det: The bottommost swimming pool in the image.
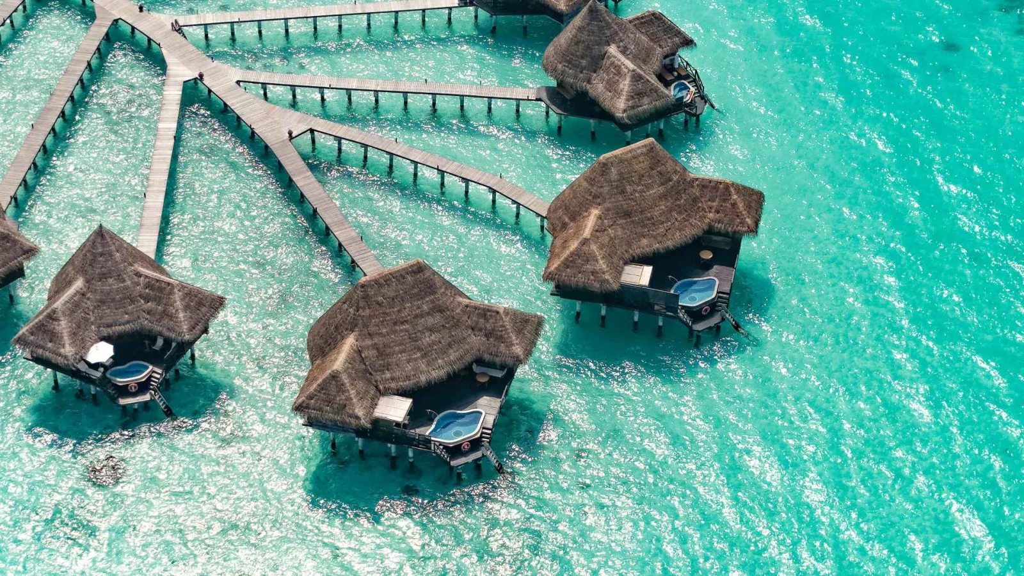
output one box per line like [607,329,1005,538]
[418,412,484,458]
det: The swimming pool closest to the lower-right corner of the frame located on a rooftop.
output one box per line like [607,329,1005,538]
[665,276,721,318]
